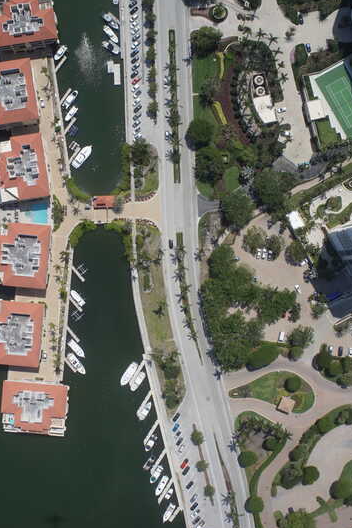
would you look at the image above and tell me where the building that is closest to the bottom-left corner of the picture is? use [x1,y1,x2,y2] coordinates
[2,377,71,436]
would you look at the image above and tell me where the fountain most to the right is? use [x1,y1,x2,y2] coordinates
[75,31,110,91]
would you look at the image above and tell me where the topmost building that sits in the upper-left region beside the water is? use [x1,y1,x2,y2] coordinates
[0,0,61,55]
